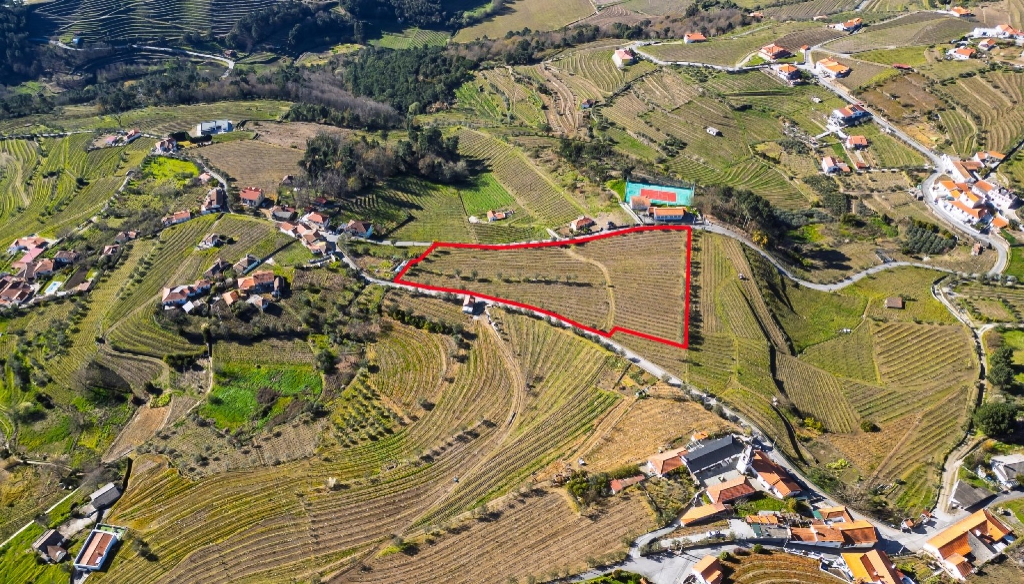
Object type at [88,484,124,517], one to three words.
building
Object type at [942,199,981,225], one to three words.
house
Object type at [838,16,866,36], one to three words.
house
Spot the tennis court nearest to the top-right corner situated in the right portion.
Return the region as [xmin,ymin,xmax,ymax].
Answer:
[626,183,692,205]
